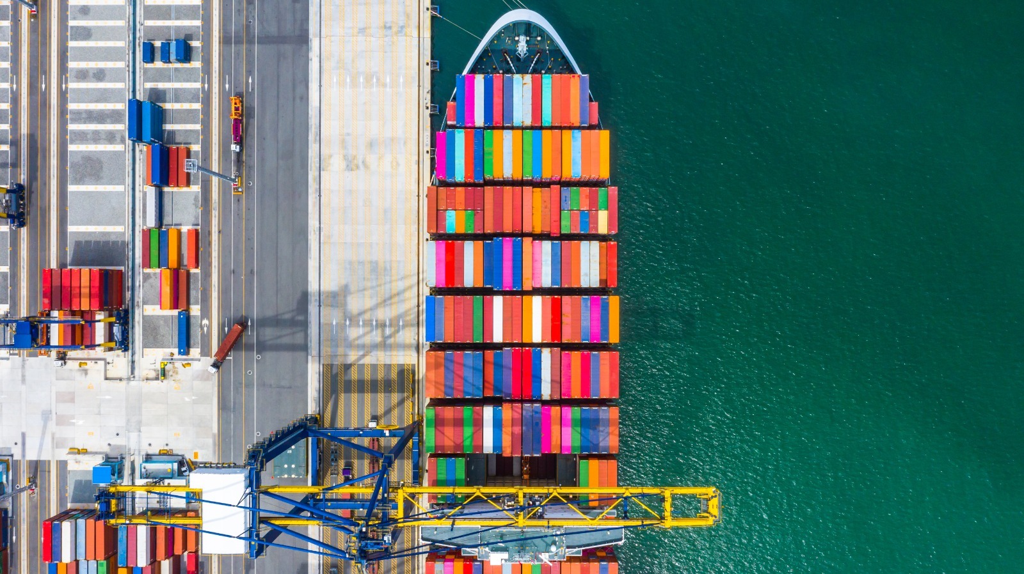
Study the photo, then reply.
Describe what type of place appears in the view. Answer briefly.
port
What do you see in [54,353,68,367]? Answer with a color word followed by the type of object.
white vehicle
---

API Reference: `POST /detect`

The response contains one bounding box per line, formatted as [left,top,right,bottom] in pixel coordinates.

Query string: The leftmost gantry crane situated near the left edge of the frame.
[0,181,24,225]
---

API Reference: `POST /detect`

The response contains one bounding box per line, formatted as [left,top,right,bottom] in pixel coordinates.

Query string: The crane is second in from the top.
[0,308,128,353]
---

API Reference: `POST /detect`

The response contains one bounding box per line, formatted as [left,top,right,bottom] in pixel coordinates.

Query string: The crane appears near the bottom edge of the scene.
[95,402,726,570]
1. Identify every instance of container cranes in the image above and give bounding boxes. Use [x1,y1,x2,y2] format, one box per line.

[0,181,24,225]
[0,308,128,353]
[95,402,726,570]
